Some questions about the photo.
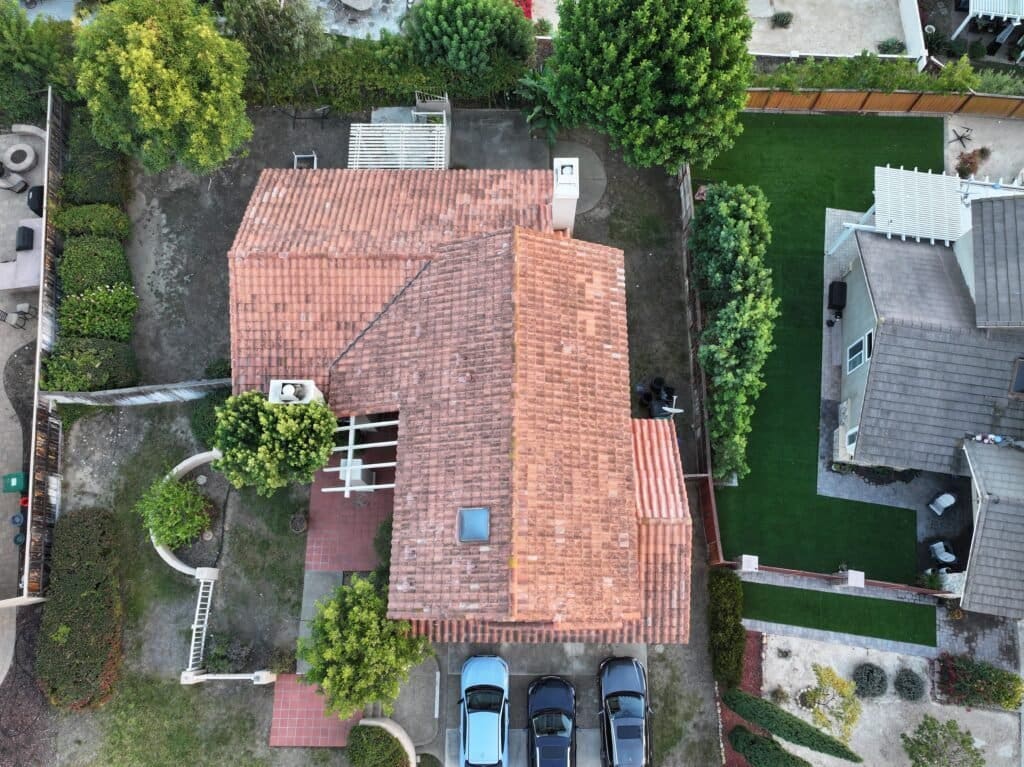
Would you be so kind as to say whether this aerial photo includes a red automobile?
No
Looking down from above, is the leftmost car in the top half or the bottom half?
bottom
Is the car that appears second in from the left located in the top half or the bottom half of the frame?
bottom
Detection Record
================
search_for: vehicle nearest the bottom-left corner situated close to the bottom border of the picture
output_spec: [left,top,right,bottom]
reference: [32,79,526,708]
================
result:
[455,655,513,767]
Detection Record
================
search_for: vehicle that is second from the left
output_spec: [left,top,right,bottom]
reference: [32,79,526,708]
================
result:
[524,676,583,767]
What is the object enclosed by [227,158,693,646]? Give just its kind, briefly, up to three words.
house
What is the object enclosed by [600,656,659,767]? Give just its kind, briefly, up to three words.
car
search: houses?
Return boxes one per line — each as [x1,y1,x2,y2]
[841,193,1024,617]
[227,158,693,646]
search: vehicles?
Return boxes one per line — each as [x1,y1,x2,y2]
[455,655,513,767]
[524,676,583,767]
[600,656,659,767]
